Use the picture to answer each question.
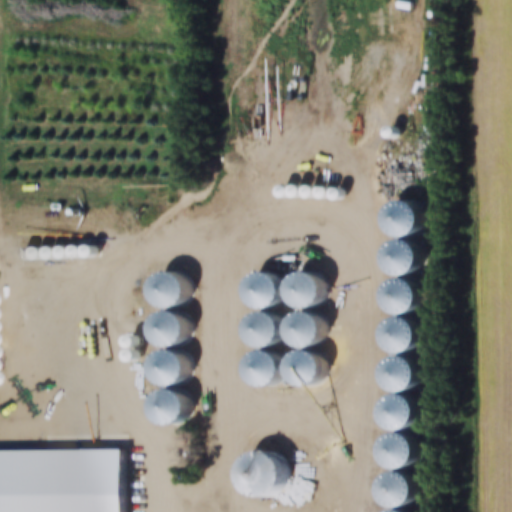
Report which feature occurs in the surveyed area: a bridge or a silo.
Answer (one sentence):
I can see a silo in this picture.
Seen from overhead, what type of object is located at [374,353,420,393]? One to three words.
silo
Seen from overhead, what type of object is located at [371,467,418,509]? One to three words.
silo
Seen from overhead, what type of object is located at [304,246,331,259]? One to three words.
vehicle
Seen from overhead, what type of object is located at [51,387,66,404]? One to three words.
vehicle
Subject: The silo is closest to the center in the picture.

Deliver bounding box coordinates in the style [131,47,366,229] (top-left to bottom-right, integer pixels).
[238,271,284,310]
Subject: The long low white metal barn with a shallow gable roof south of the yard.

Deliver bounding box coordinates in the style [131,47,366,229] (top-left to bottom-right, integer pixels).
[0,448,128,512]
